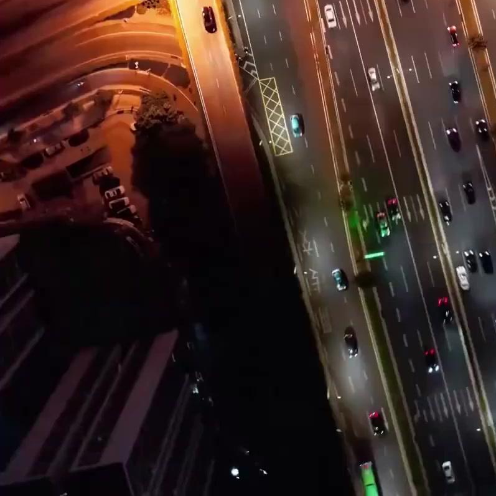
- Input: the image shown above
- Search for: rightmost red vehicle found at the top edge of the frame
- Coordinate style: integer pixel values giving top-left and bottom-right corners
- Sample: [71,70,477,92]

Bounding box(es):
[446,23,460,49]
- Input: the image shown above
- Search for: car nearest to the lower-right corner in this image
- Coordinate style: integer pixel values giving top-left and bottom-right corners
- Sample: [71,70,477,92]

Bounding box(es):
[441,457,455,483]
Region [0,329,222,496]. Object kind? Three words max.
building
